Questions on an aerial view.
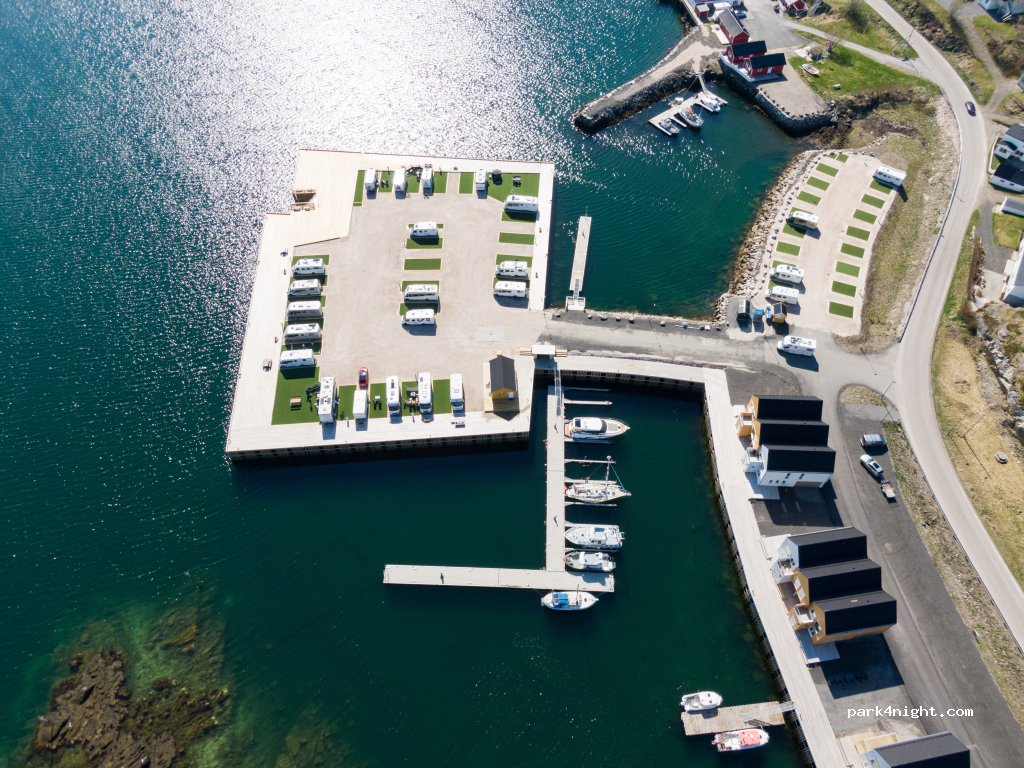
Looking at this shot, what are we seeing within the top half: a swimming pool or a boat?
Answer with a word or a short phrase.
boat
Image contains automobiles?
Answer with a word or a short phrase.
Yes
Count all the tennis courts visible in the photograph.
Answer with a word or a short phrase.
0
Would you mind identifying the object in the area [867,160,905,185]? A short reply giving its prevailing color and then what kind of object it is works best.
white camper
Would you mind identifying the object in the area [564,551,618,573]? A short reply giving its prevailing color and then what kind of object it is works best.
white boat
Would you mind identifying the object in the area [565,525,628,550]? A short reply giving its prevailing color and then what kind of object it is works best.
white boat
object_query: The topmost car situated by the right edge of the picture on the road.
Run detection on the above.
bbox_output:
[963,101,979,115]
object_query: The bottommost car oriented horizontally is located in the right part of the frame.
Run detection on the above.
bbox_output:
[859,434,889,448]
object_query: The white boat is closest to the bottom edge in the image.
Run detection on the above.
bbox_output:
[712,730,770,754]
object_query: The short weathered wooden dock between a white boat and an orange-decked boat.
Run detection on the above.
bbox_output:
[681,701,784,735]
